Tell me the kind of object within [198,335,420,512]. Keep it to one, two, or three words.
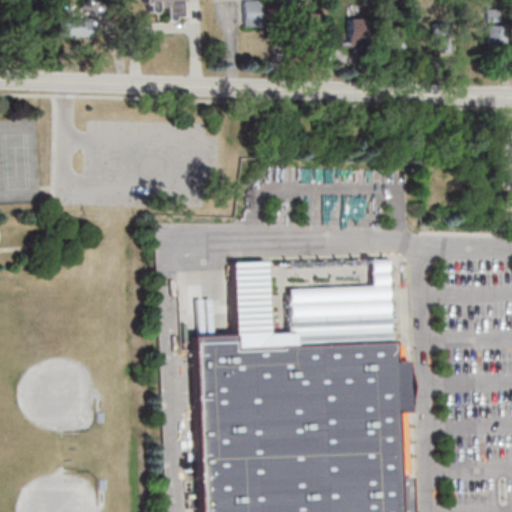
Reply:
building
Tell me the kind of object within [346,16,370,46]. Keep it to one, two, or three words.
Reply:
house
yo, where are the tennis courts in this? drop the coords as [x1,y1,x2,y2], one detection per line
[0,121,38,204]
